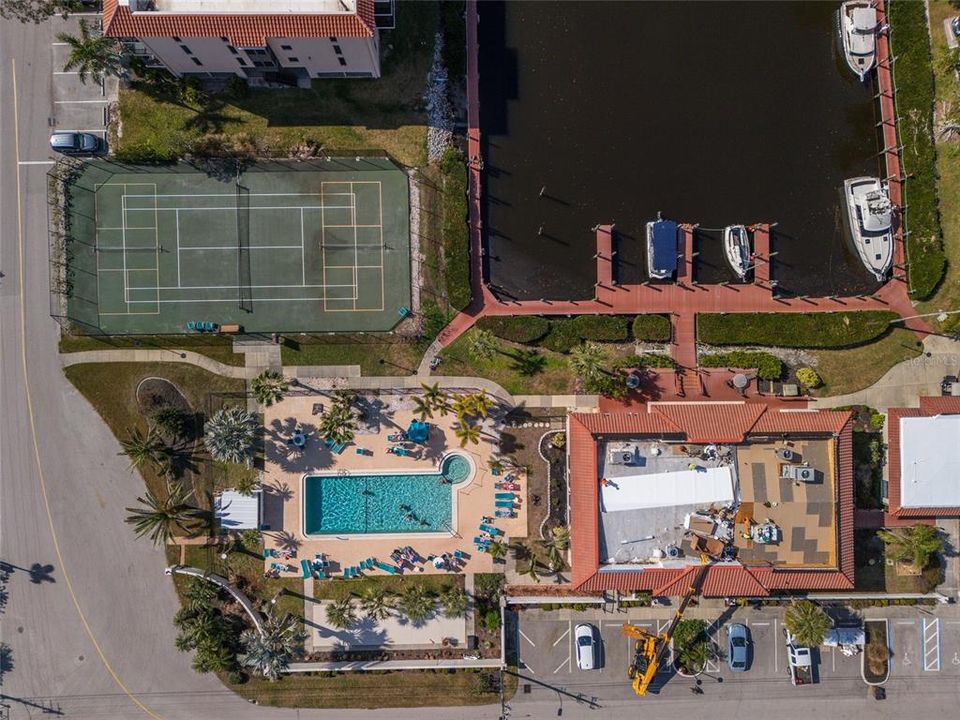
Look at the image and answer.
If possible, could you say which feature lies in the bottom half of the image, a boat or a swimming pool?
swimming pool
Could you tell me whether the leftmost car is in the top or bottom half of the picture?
top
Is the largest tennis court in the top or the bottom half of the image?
top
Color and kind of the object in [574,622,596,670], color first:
white car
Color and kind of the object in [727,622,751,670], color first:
blue car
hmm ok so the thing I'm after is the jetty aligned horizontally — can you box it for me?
[501,278,933,340]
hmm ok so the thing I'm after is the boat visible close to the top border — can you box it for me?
[832,0,878,82]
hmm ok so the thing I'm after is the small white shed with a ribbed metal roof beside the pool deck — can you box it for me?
[214,489,264,530]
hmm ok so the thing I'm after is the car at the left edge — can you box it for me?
[47,128,100,153]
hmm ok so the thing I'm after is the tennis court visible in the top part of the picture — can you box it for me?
[67,159,411,333]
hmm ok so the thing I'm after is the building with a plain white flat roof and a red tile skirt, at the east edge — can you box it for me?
[880,396,960,518]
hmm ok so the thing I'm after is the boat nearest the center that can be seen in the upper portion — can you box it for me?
[647,216,681,279]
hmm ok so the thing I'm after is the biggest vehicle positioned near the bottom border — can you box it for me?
[610,541,713,696]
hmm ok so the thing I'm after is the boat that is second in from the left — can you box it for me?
[726,224,753,281]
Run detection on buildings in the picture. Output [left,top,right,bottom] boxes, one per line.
[214,489,264,530]
[568,401,855,597]
[102,0,404,88]
[880,396,960,518]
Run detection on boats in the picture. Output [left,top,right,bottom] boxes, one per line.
[832,0,878,82]
[726,224,753,281]
[834,171,892,281]
[647,216,681,279]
